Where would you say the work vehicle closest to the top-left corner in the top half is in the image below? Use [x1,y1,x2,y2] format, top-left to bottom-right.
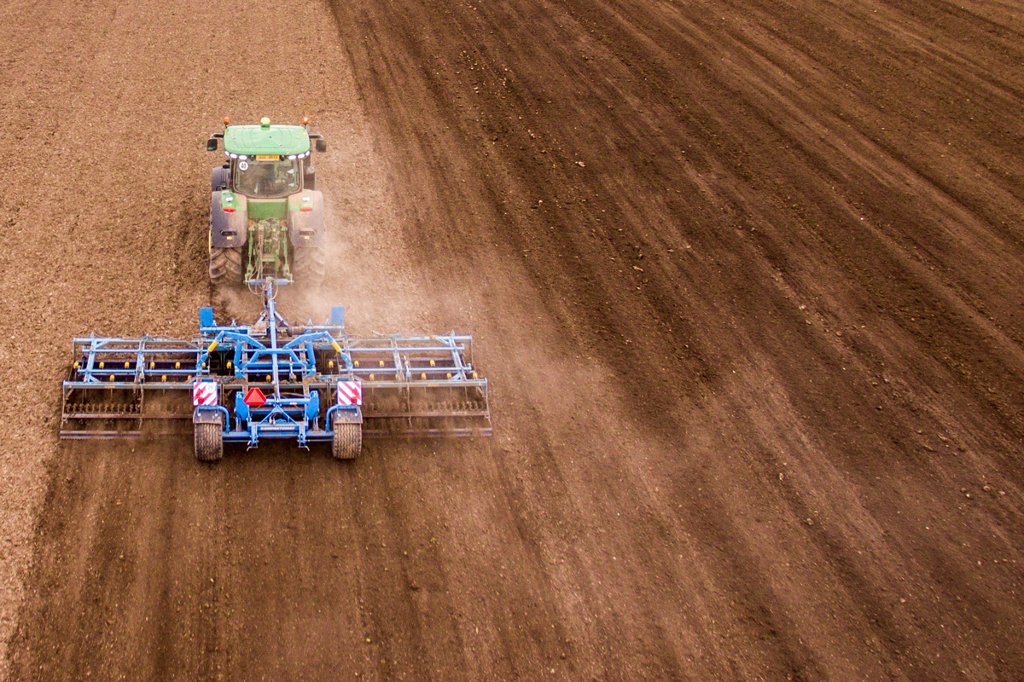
[208,114,324,294]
